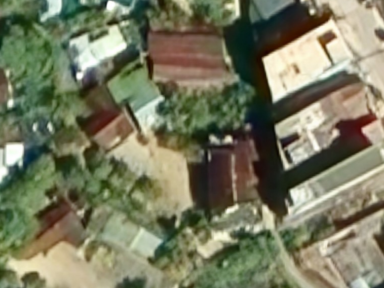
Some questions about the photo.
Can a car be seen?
No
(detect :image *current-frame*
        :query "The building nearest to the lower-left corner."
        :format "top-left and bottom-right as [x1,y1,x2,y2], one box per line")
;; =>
[23,198,85,259]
